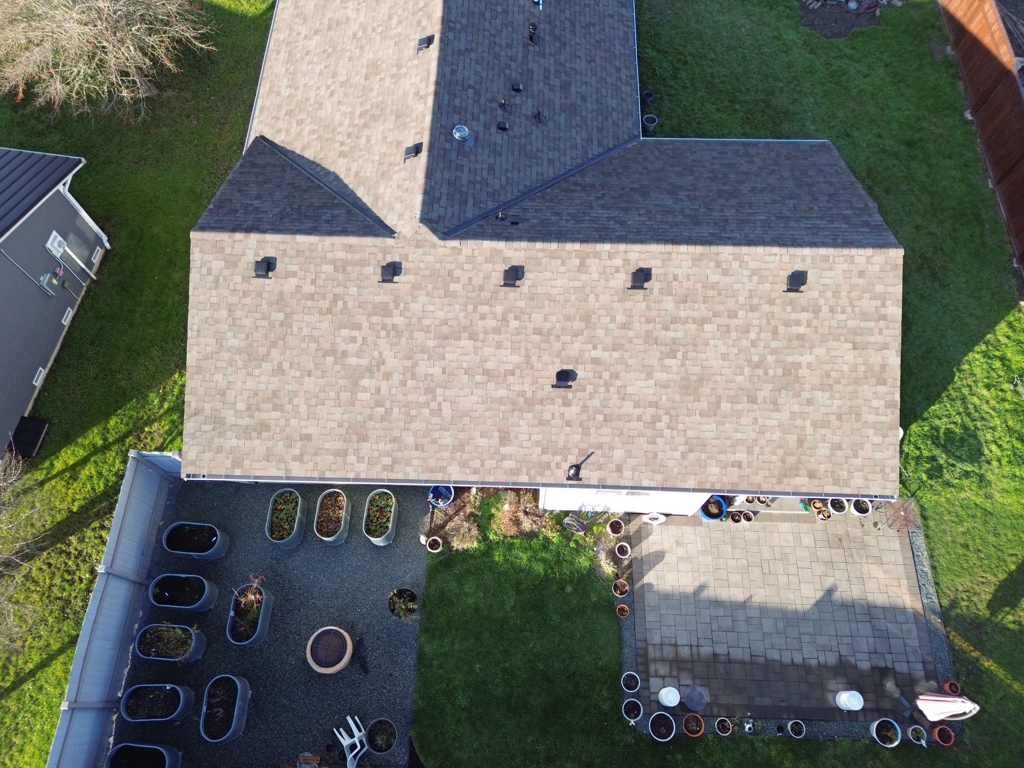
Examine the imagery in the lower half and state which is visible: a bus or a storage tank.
storage tank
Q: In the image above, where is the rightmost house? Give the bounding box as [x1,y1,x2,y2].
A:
[182,0,909,516]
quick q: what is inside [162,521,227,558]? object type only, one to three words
storage tank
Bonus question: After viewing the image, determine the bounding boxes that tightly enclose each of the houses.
[182,0,909,516]
[0,138,121,454]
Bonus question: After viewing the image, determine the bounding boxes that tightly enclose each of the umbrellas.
[892,688,983,726]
